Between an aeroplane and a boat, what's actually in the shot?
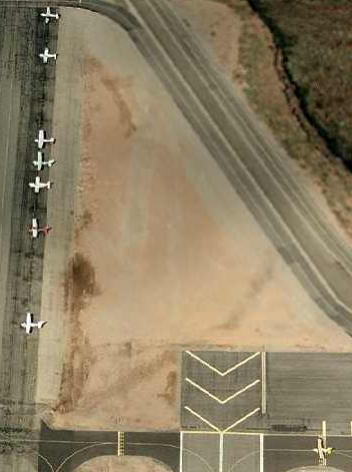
aeroplane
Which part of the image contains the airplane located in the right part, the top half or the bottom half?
bottom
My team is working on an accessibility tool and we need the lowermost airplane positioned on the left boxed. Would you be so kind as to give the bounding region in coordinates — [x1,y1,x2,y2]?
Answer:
[21,311,45,333]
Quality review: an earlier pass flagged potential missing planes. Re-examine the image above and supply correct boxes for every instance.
[41,7,61,22]
[34,129,55,147]
[28,218,50,236]
[21,311,45,333]
[39,48,60,63]
[312,436,334,463]
[30,178,51,194]
[33,151,54,169]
